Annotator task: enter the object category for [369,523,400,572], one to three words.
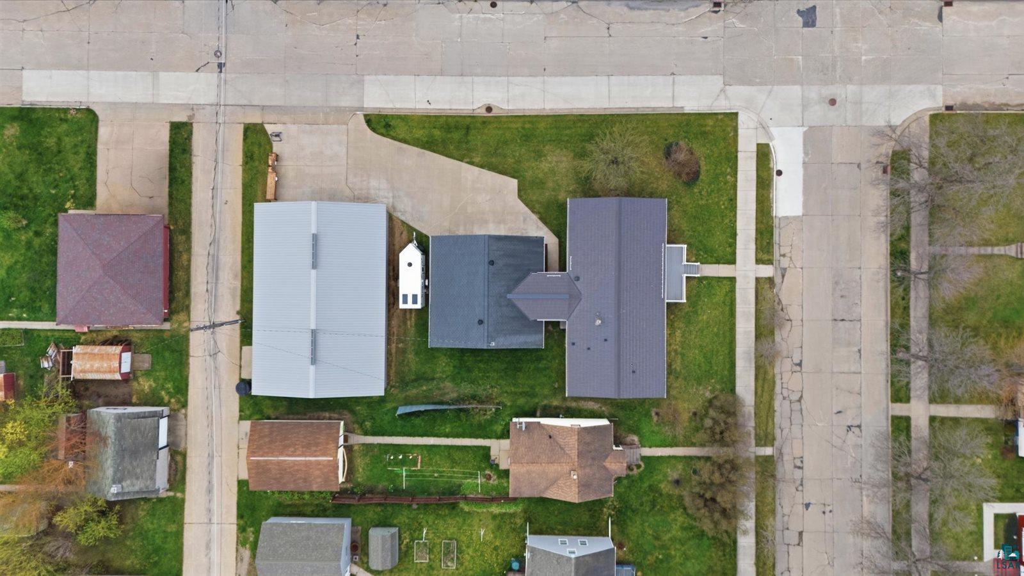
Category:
shed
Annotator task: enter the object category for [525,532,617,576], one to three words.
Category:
house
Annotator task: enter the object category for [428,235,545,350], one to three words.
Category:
building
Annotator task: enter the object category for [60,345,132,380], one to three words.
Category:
shed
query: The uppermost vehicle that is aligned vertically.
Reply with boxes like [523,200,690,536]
[397,231,428,308]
